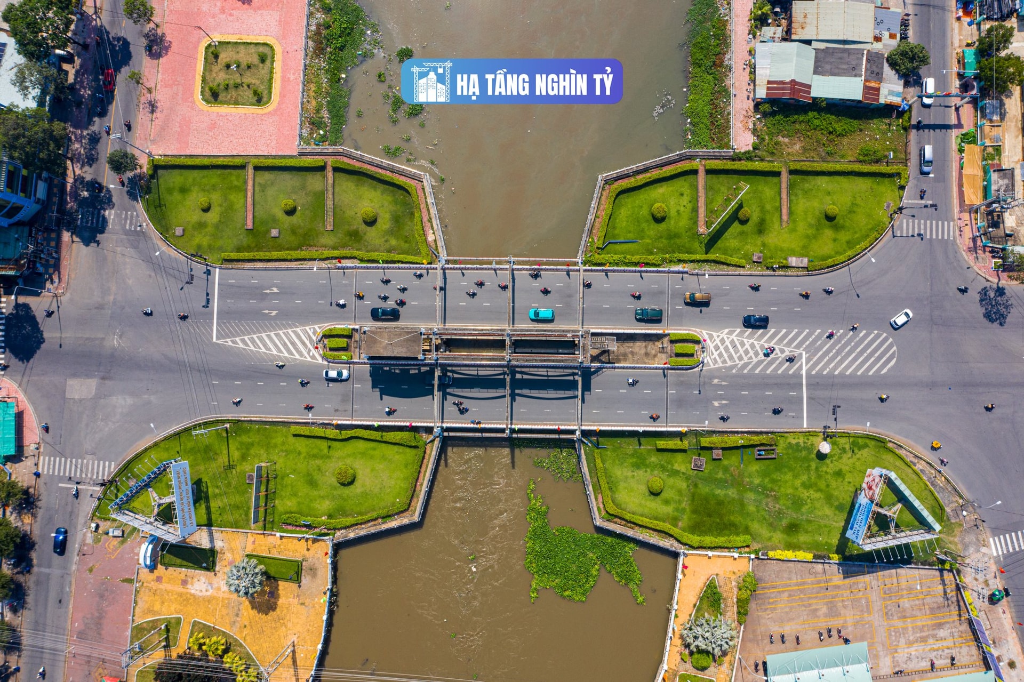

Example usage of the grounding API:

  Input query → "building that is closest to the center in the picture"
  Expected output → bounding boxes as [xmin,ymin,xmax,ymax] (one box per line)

[361,329,435,358]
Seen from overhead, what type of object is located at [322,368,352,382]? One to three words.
car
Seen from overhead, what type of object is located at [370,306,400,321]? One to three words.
car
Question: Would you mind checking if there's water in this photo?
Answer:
Yes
